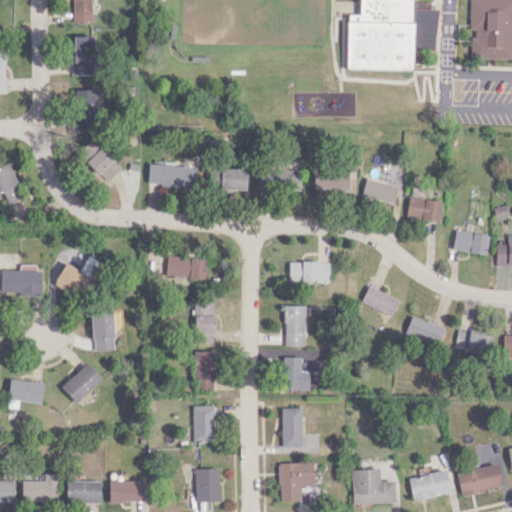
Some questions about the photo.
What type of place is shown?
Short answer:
residential area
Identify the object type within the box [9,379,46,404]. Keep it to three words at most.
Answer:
house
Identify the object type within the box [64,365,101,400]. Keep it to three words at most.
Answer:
house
